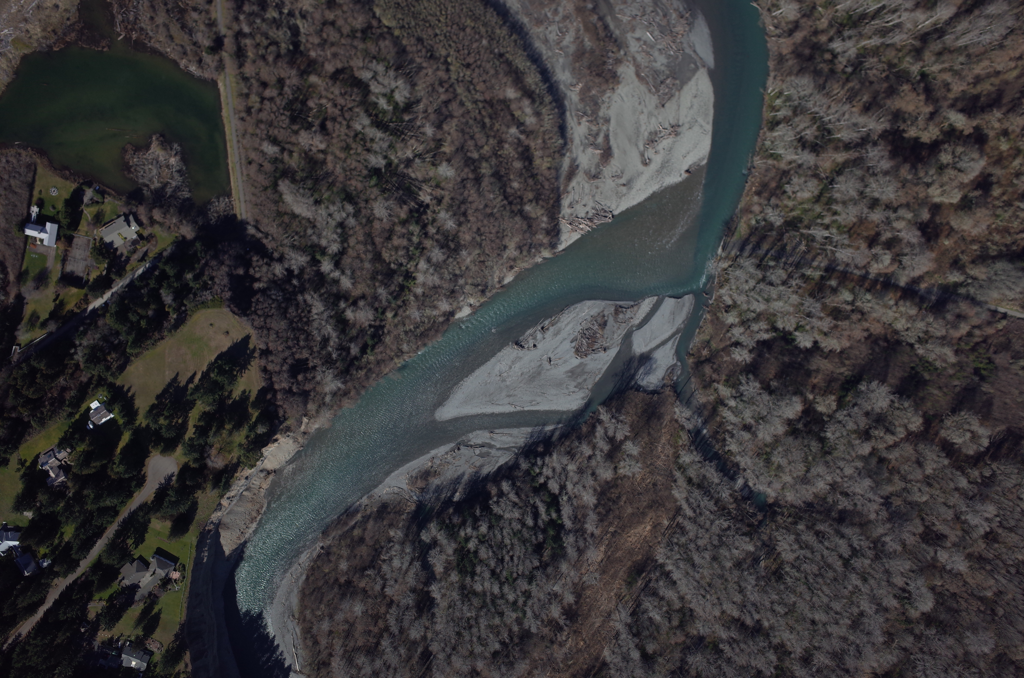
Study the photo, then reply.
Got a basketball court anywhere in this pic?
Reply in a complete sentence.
No, I find no basketball court anywhere in the image.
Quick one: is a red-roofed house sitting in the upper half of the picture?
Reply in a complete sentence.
No, no red-roofed house can be made out in the upper half of the picture.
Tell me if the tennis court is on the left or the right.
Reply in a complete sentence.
The tennis court appears in the left half of the scene.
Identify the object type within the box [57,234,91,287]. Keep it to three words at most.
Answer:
tennis court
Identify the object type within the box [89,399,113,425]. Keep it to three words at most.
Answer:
house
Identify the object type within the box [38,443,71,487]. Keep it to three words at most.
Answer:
house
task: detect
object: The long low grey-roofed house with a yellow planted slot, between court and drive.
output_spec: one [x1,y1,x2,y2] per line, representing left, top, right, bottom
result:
[99,214,141,247]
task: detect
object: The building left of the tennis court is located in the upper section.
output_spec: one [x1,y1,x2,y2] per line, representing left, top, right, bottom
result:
[23,222,60,247]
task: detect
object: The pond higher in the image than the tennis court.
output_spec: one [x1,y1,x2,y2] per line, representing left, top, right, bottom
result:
[0,0,230,204]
